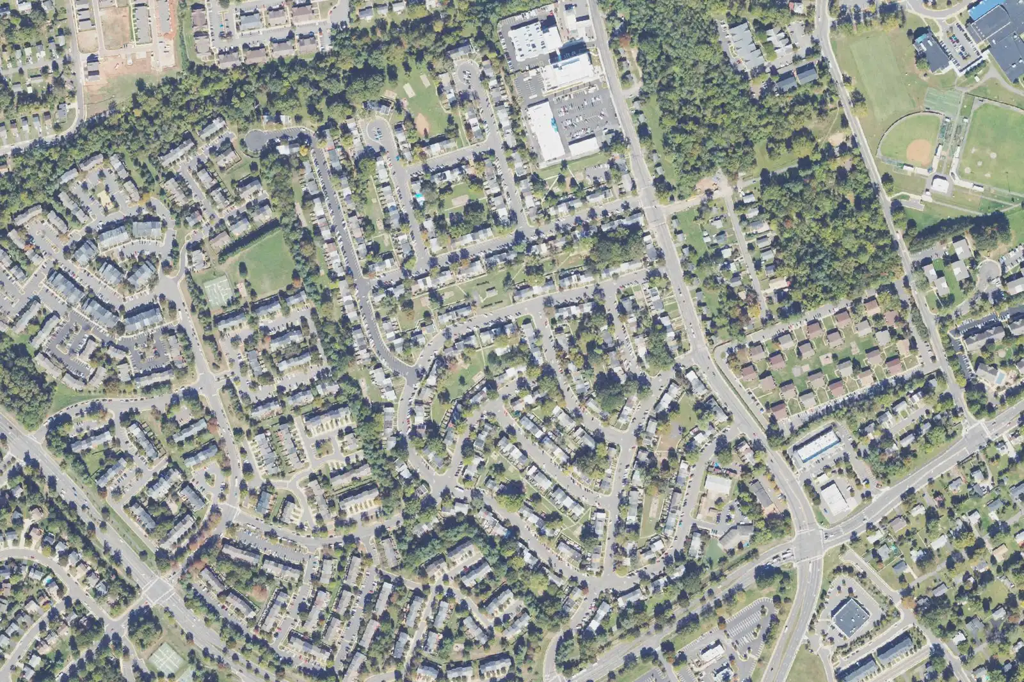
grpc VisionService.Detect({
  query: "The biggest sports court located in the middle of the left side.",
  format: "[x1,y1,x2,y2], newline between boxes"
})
[204,276,233,309]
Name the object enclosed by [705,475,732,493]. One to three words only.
building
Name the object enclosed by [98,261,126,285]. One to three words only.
building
